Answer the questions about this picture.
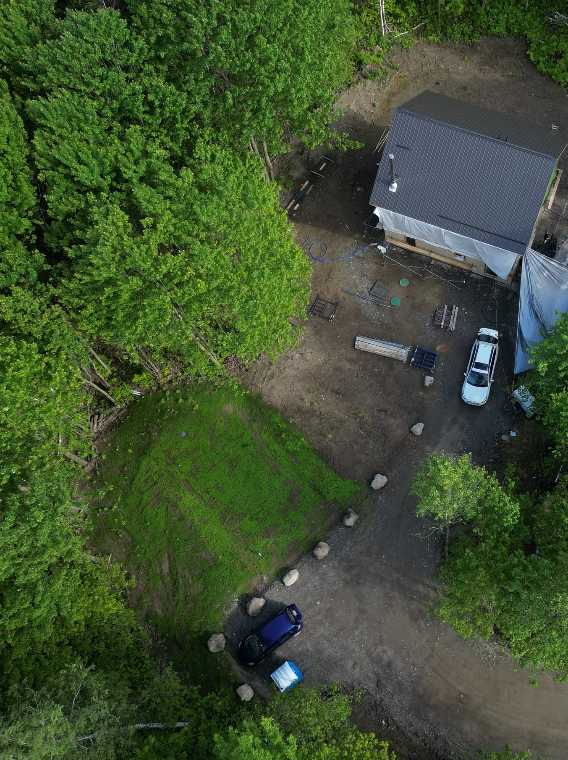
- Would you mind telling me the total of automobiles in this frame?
2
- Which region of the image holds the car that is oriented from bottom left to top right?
bottom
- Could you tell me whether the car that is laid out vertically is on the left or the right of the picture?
right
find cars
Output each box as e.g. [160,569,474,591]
[463,327,501,408]
[237,610,311,669]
